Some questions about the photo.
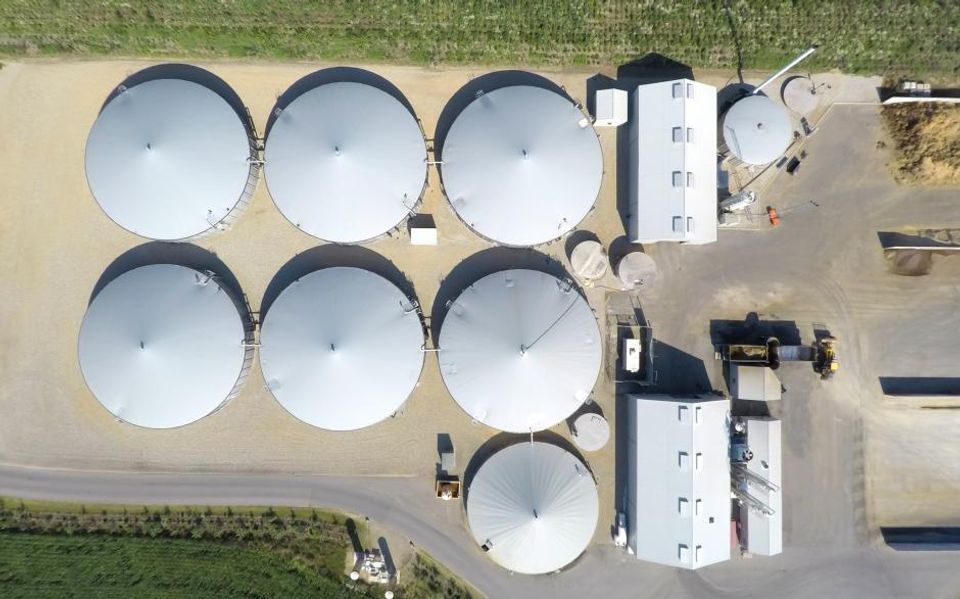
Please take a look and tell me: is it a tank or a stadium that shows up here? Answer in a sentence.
Looking from above, you can make out a tank.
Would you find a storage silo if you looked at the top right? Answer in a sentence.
Yes, I can see a storage silo at the top right.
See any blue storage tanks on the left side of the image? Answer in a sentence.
No, on the left side of the image there is no blue storage tank.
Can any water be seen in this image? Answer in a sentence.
No, there is no water in the image.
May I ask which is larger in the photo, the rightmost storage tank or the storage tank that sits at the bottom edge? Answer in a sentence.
The larger object is the storage tank that sits at the bottom edge, with the rightmost storage tank being the smaller of the pair.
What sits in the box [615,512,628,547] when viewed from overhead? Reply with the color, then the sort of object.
white vehicle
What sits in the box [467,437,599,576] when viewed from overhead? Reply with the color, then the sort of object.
white storage tank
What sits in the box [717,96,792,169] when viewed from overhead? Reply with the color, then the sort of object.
white silo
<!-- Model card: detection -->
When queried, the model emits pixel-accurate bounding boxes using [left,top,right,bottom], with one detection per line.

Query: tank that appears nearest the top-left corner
[84,77,259,244]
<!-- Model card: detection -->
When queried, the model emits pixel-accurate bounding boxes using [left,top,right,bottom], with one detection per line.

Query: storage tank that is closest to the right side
[782,74,829,113]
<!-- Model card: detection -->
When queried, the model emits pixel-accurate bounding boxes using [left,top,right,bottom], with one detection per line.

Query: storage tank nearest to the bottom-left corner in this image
[78,262,254,429]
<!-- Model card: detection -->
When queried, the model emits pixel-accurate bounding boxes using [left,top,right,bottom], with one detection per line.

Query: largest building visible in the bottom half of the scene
[628,394,733,567]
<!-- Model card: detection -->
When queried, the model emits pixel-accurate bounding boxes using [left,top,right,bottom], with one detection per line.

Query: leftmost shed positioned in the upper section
[399,214,438,246]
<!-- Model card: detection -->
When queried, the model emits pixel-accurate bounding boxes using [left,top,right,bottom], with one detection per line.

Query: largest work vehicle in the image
[816,336,837,381]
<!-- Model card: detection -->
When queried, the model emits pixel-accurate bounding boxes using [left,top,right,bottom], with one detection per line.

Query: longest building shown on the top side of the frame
[629,81,717,245]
